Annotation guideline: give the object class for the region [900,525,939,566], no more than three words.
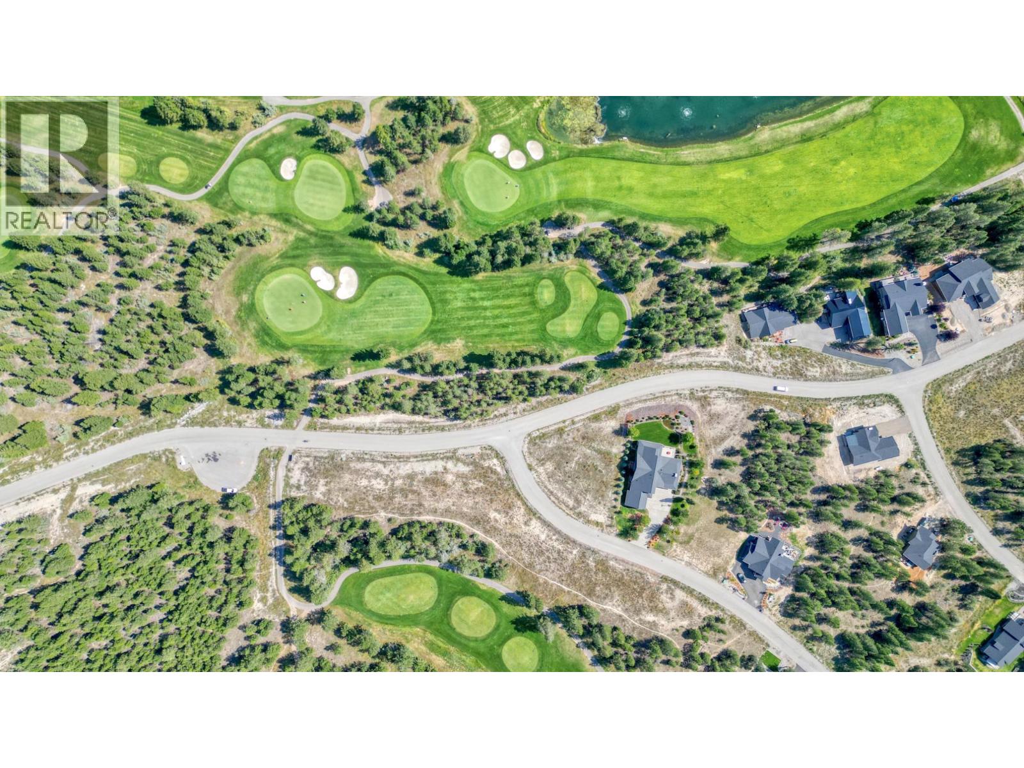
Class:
house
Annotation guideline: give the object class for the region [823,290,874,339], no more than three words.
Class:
house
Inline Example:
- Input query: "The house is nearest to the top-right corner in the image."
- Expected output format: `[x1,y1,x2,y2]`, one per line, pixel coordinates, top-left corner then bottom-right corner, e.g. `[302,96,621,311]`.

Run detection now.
[930,258,999,307]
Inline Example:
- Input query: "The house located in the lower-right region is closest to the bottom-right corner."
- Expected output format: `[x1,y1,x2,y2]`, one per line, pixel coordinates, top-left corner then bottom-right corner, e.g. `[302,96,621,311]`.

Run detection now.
[977,613,1024,667]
